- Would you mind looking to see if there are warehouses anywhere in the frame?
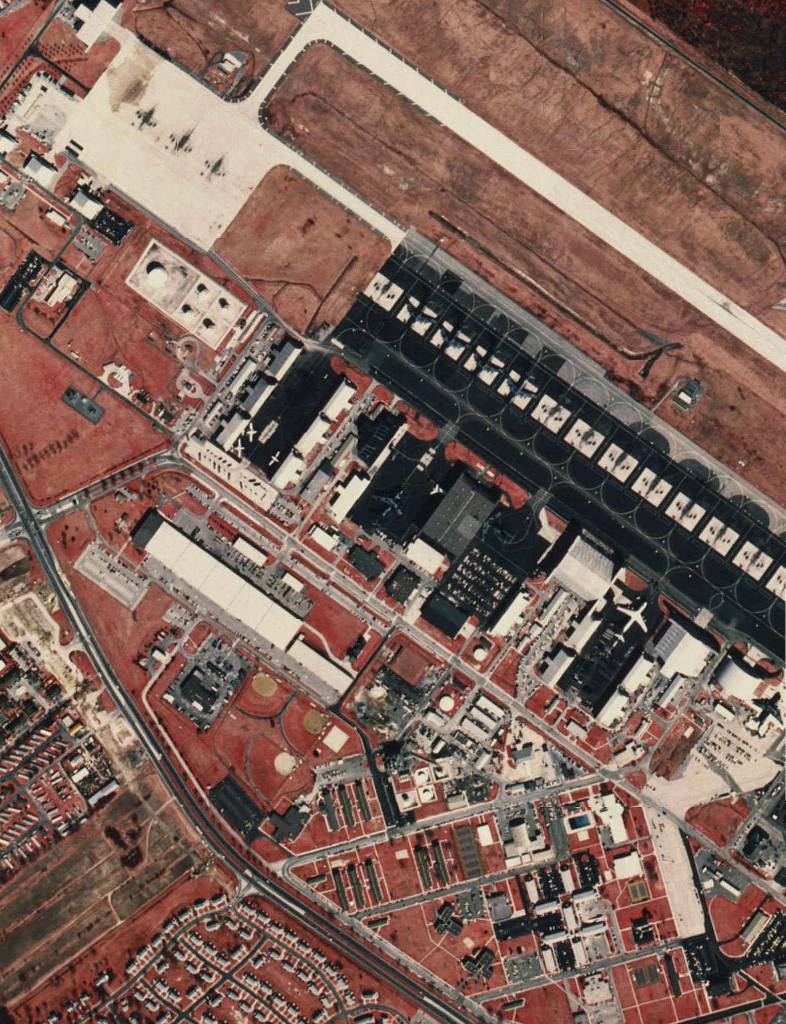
Yes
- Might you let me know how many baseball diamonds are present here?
3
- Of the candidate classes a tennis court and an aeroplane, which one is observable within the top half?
aeroplane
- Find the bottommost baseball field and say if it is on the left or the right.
left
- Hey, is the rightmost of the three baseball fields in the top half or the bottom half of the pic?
bottom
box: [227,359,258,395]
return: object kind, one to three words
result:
building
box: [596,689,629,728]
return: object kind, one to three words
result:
hangar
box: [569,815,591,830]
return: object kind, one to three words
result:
swimming pool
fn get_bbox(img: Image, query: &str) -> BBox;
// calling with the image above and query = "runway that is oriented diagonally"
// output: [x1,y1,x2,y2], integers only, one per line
[301,2,786,371]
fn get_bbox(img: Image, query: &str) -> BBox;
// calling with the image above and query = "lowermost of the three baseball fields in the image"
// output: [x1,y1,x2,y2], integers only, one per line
[246,731,304,804]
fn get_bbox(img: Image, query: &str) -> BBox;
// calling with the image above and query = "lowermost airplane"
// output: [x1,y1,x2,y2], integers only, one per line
[751,690,783,729]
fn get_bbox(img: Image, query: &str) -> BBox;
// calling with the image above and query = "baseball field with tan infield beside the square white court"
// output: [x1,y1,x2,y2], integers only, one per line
[280,695,333,757]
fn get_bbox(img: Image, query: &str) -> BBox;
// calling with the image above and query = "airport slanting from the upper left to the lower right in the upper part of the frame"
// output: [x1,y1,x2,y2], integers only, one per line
[2,0,786,739]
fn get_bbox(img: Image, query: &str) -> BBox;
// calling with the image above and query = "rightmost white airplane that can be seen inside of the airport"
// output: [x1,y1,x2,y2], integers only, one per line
[616,598,648,638]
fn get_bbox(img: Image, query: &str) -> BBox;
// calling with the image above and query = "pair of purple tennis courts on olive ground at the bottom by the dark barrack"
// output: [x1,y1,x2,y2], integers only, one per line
[632,964,662,988]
